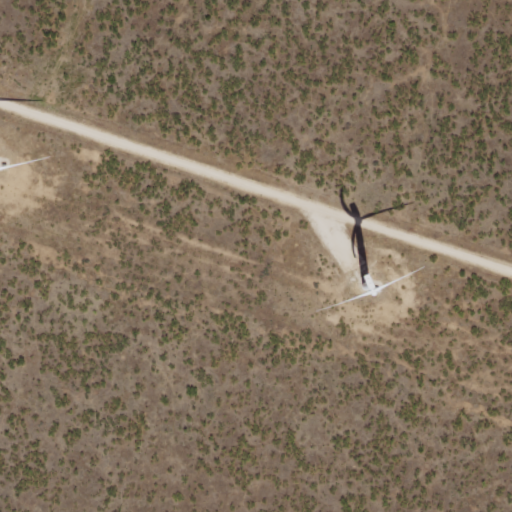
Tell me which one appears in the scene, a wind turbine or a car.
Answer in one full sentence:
The image shows a wind turbine.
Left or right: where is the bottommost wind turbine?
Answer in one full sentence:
The bottommost wind turbine sits on the right side.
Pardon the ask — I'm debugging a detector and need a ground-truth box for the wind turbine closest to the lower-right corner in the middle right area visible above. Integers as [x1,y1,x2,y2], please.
[322,268,430,312]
